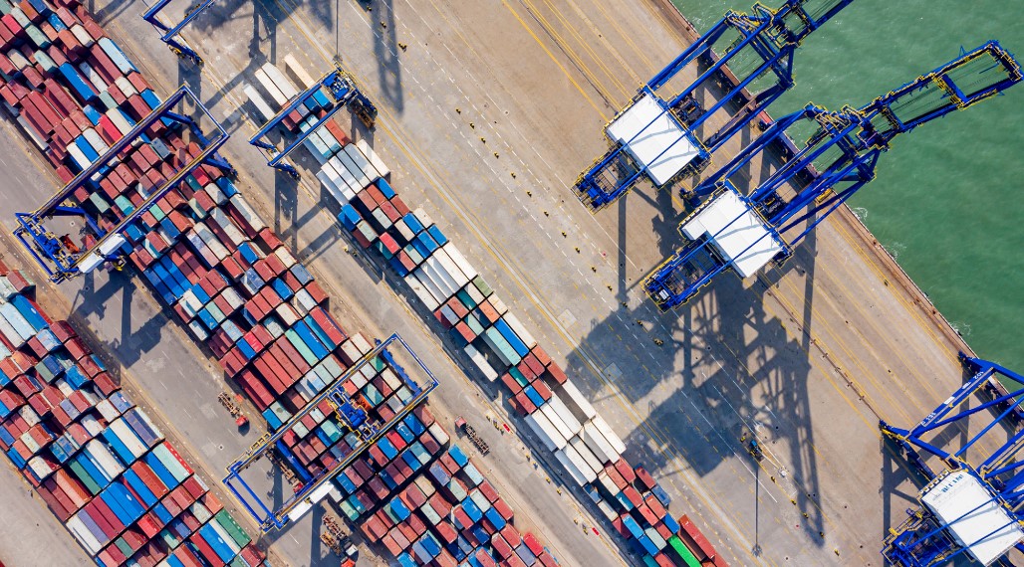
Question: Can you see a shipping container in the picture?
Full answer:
Yes, the picture does show a shipping container.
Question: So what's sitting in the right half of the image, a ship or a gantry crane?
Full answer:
The feature located in the right half of the image is a gantry crane.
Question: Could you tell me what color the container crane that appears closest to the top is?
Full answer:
The color of the container crane that appears closest to the top is blue.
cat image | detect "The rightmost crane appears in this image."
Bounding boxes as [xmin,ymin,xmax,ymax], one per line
[880,350,1024,567]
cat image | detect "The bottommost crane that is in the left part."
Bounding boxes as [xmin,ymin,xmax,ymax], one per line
[220,332,442,537]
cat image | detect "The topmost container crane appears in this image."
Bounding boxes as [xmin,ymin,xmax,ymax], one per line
[142,0,216,64]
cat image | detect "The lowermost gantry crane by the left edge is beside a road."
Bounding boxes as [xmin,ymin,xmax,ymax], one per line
[7,85,233,289]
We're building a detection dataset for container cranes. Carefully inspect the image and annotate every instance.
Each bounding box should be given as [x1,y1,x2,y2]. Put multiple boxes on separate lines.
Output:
[249,62,377,180]
[142,0,216,64]
[652,38,1020,311]
[570,0,849,216]
[880,350,1024,567]
[7,85,233,289]
[220,332,442,537]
